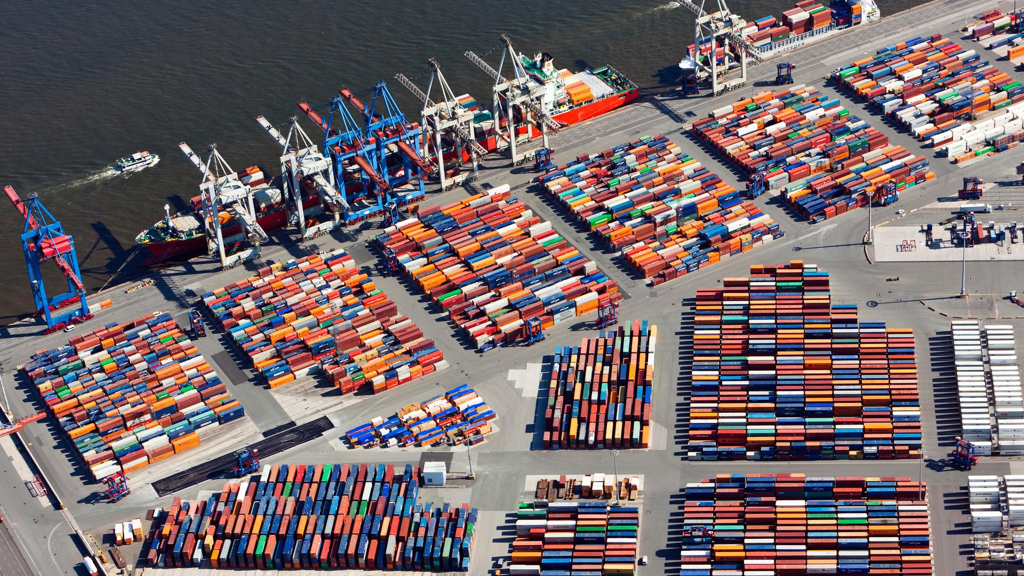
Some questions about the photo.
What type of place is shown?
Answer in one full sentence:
The area seen from above is a port.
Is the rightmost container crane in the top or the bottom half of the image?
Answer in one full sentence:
It is in the top half that the rightmost container crane appears.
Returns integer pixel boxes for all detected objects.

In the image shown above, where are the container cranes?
[392,58,496,192]
[463,34,570,167]
[2,183,92,330]
[336,80,440,210]
[175,135,272,269]
[0,397,48,433]
[678,0,773,96]
[294,93,397,225]
[254,109,356,241]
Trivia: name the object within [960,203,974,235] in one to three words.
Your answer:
work vehicle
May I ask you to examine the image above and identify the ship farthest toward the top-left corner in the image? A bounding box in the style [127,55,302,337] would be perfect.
[115,154,157,175]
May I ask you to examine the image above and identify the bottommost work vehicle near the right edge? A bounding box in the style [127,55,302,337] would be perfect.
[953,429,979,464]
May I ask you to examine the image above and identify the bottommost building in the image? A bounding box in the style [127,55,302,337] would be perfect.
[422,463,447,484]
